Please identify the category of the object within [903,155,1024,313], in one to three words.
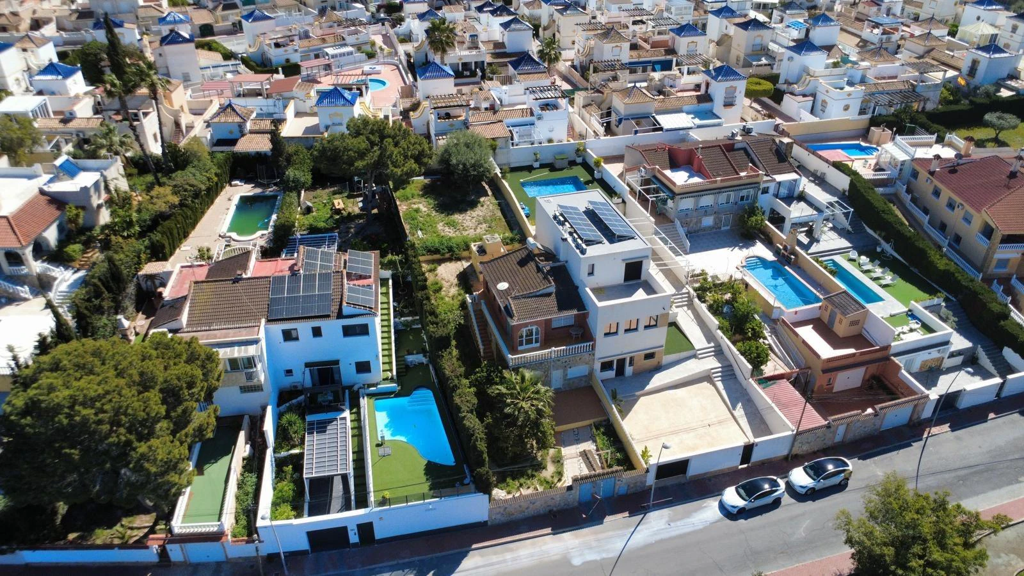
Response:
house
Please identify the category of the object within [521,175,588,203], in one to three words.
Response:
swimming pool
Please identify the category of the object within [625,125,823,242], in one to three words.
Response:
house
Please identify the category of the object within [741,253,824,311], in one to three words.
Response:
swimming pool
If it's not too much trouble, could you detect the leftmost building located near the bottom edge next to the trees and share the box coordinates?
[118,464,263,563]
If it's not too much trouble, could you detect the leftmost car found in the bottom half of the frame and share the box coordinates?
[720,475,788,516]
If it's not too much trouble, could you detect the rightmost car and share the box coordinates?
[789,455,856,494]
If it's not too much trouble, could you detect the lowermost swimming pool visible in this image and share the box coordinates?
[375,387,455,465]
